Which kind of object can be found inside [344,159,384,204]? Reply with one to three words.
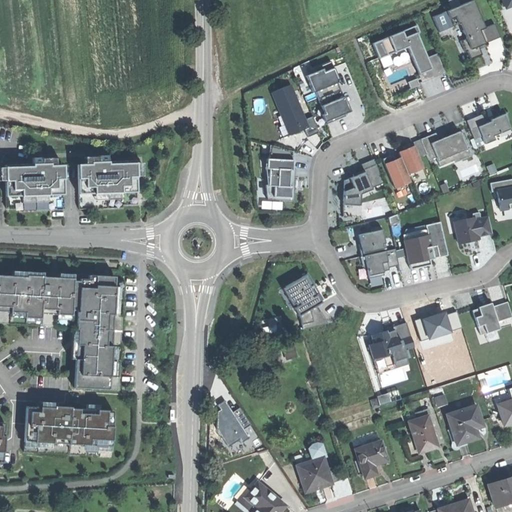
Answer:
house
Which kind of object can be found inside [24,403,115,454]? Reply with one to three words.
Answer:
building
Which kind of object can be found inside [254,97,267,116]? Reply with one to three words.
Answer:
swimming pool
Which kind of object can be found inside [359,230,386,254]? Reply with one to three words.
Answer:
house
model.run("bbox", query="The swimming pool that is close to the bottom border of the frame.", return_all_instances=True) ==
[224,483,241,499]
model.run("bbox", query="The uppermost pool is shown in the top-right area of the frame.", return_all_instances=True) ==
[386,68,409,84]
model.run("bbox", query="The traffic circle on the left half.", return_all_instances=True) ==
[160,206,234,280]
